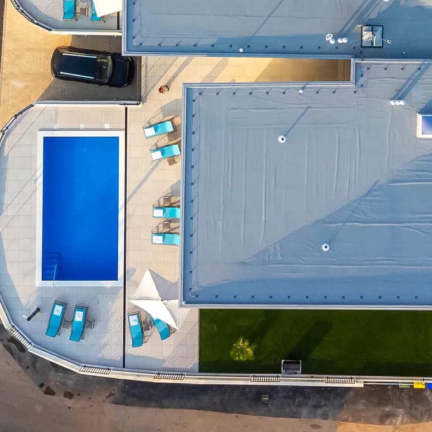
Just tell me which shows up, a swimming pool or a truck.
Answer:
swimming pool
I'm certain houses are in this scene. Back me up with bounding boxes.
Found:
[180,60,432,308]
[123,0,432,58]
